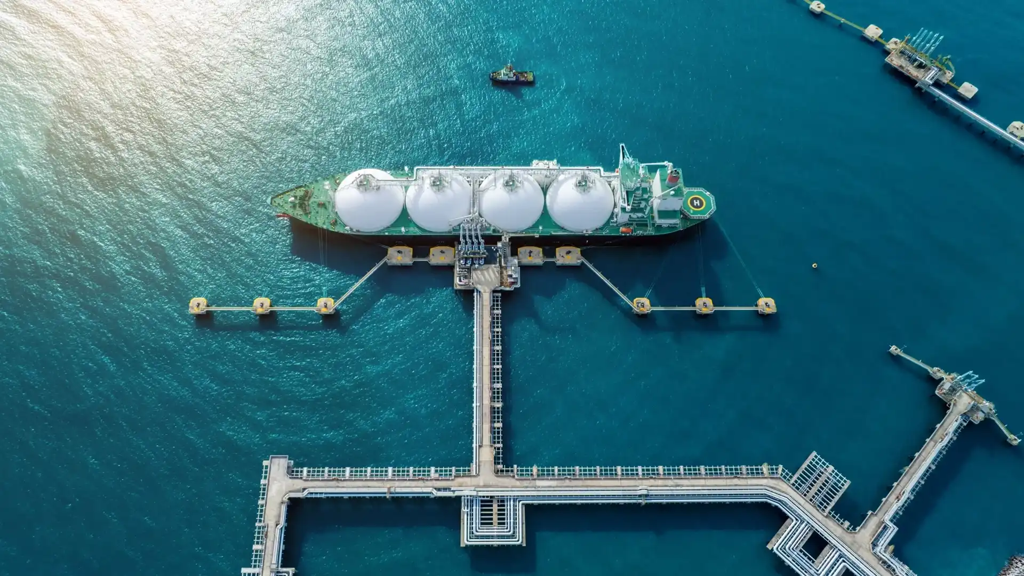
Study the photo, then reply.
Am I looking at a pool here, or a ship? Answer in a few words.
ship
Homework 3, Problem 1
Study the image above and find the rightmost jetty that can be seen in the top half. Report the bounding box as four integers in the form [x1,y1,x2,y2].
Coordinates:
[921,84,1024,156]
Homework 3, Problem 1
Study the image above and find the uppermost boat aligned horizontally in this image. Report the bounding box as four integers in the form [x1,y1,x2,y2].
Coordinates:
[489,66,536,88]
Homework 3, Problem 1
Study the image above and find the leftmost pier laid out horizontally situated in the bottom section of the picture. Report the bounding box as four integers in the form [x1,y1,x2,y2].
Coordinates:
[288,467,787,547]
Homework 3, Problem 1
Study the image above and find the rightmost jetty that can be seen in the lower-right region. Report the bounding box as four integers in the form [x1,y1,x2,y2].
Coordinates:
[871,389,975,529]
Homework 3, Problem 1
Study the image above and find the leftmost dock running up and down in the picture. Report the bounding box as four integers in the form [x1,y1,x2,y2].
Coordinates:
[241,455,303,576]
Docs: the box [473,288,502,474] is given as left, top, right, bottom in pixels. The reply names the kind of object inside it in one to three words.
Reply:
pier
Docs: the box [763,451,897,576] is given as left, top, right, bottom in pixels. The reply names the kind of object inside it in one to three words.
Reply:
pier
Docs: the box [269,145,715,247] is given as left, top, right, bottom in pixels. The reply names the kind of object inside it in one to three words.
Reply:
ship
